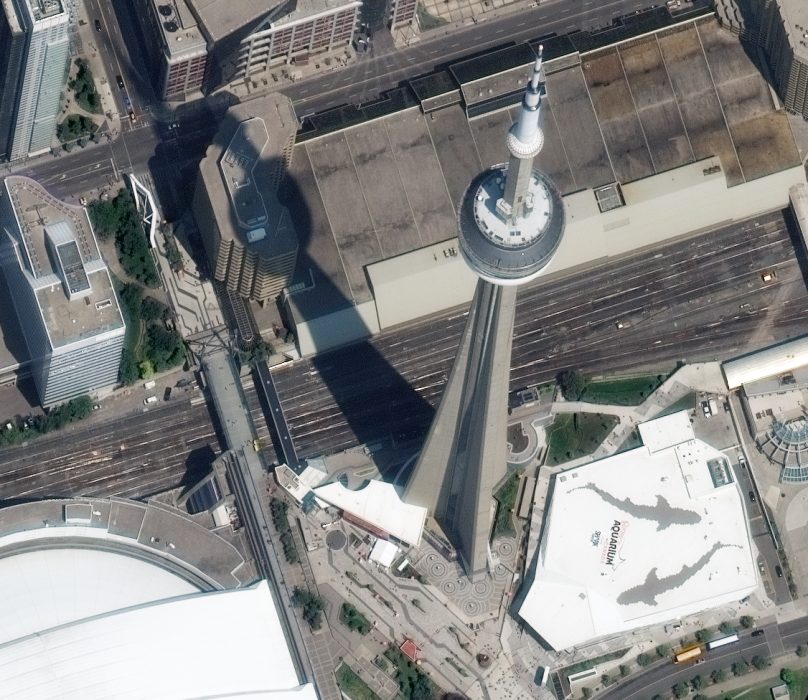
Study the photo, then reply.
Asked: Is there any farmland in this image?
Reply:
No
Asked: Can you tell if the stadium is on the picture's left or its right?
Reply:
left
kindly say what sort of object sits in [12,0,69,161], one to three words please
building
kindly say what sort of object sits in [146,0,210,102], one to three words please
building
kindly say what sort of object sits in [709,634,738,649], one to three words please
vehicle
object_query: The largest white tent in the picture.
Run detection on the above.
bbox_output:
[368,538,398,571]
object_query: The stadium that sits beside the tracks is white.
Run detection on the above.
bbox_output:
[0,494,316,700]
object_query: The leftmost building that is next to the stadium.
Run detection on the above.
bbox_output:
[0,175,125,405]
